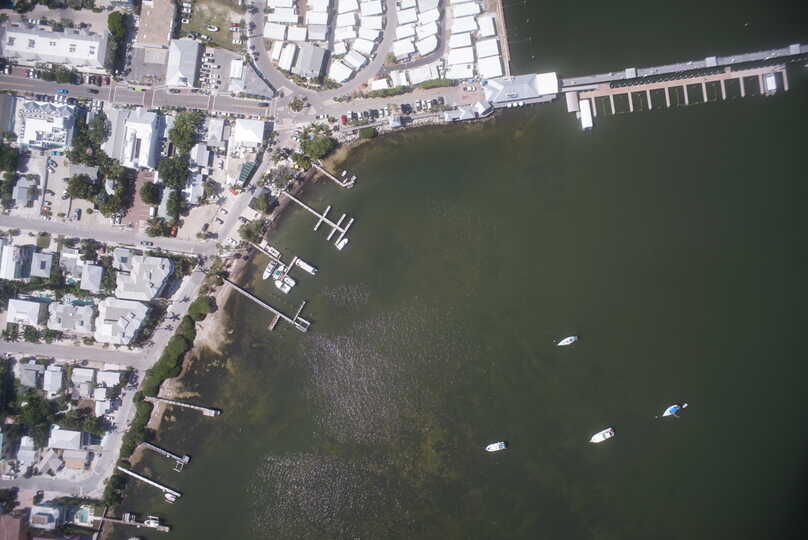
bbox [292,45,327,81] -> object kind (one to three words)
building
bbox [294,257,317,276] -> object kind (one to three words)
boat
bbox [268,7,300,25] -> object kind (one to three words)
house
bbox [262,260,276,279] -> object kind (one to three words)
boat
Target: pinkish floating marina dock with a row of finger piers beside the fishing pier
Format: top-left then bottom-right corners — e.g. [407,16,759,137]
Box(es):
[561,65,791,116]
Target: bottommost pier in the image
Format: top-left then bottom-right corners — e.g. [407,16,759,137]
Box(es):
[92,514,170,534]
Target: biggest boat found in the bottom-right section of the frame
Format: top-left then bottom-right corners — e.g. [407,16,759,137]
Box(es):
[589,427,616,444]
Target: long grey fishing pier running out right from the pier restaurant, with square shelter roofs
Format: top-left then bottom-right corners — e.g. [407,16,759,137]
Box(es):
[559,42,808,88]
